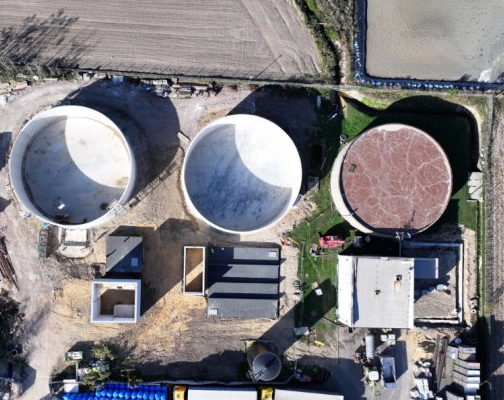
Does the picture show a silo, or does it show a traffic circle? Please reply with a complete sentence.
The image shows a silo.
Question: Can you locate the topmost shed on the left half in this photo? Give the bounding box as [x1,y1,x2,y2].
[106,236,142,271]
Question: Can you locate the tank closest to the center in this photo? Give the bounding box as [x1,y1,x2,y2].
[180,113,302,235]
